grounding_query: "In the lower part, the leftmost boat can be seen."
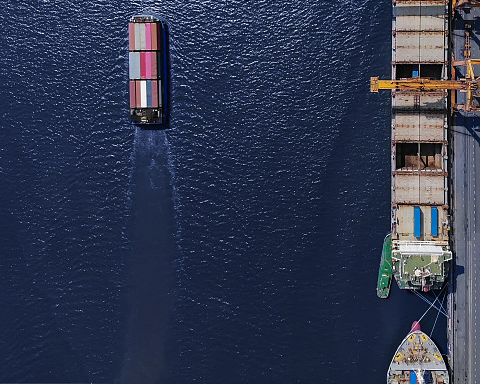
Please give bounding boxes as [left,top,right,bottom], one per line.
[377,233,392,299]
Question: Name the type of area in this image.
port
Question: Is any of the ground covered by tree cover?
No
